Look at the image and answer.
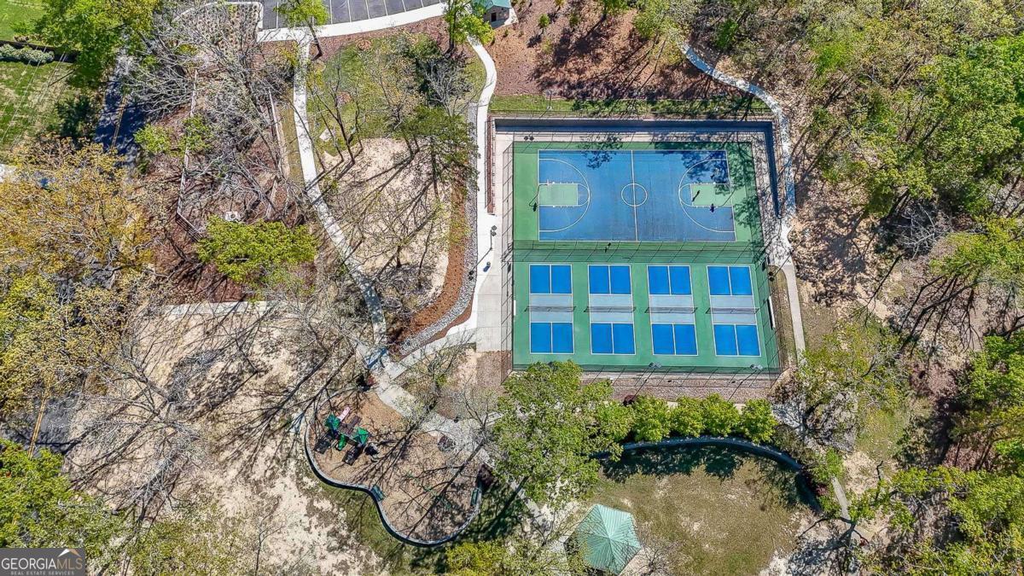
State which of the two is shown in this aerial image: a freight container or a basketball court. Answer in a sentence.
It is a basketball court that can be seen here.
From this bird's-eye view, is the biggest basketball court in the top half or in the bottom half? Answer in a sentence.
The biggest basketball court sits in the top half of the picture.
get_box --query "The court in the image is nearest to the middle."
[512,249,583,371]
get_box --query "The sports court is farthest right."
[697,250,782,372]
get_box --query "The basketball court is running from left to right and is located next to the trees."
[513,141,766,250]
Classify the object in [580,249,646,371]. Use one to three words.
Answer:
sports court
